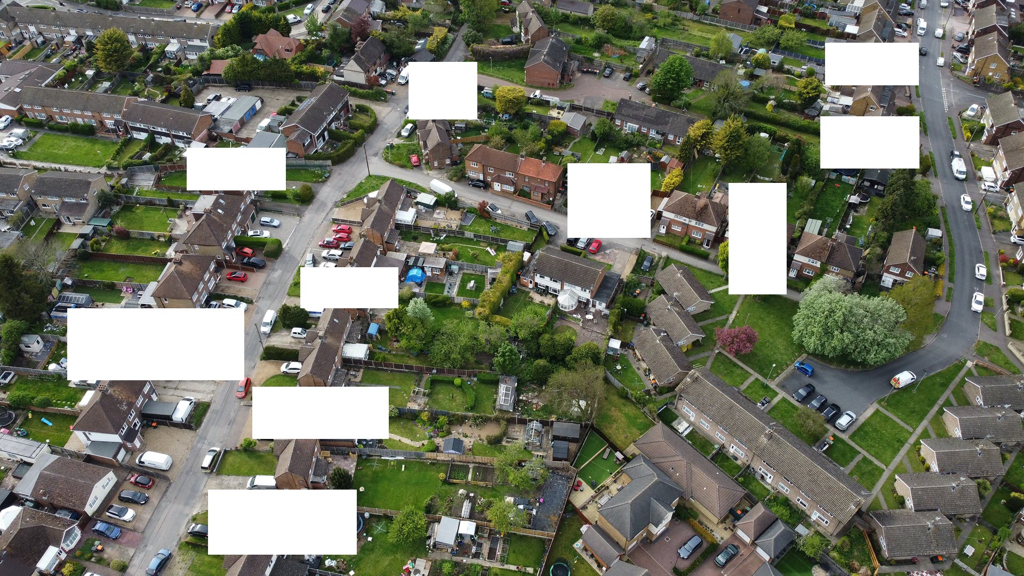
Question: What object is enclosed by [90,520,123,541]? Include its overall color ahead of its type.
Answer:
blue car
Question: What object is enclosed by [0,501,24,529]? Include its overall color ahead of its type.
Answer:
white gazebo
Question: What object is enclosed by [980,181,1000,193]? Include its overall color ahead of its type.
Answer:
white vehicle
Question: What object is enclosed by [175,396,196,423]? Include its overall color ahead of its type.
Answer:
white vehicle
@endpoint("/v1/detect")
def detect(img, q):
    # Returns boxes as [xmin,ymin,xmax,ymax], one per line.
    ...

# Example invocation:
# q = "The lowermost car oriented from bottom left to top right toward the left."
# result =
[143,547,174,576]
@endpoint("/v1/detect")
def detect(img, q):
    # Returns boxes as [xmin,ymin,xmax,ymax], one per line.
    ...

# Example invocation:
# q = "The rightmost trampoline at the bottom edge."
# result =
[550,556,571,576]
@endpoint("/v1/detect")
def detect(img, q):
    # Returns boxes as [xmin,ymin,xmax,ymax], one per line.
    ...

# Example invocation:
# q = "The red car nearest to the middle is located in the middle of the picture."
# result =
[588,239,603,255]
